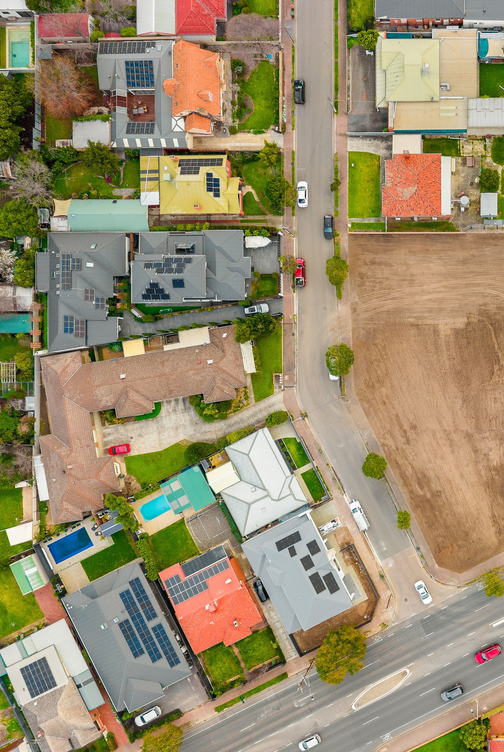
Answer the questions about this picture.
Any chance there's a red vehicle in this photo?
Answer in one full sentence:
Yes, this view includes a red vehicle.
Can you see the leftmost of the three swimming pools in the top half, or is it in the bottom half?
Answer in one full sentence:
It is in the top half that the leftmost of the three swimming pools appears.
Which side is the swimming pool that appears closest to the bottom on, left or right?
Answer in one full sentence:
It is on the left.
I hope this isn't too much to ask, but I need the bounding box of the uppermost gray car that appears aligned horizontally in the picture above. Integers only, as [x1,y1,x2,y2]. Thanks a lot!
[243,303,270,316]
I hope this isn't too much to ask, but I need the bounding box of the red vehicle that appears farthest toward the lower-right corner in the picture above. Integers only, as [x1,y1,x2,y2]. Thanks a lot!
[477,644,500,661]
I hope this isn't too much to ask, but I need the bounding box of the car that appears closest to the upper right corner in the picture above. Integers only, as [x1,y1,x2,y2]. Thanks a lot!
[293,79,305,106]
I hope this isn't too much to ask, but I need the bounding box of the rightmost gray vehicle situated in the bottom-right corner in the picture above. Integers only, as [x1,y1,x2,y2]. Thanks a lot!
[440,682,466,702]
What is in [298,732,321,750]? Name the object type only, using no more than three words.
car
